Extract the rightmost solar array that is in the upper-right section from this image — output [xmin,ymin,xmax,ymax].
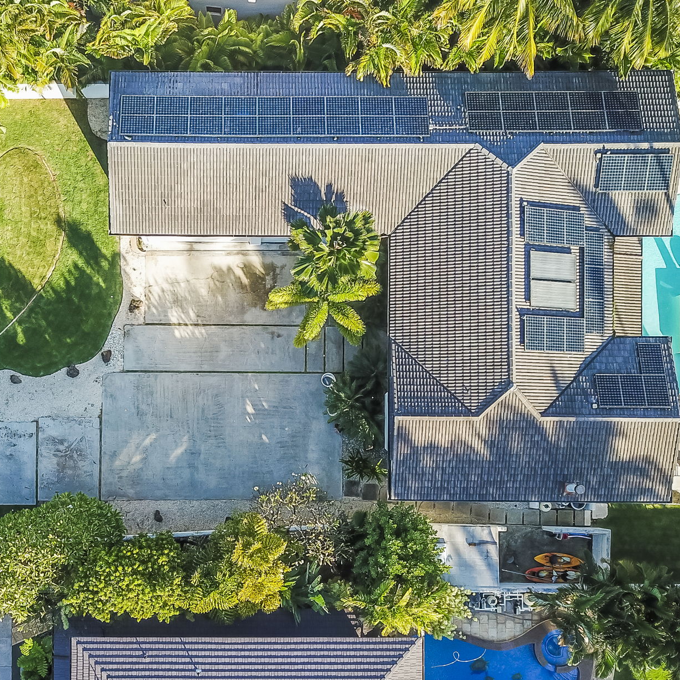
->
[598,155,676,191]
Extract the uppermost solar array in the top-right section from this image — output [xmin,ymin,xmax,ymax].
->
[465,91,644,131]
